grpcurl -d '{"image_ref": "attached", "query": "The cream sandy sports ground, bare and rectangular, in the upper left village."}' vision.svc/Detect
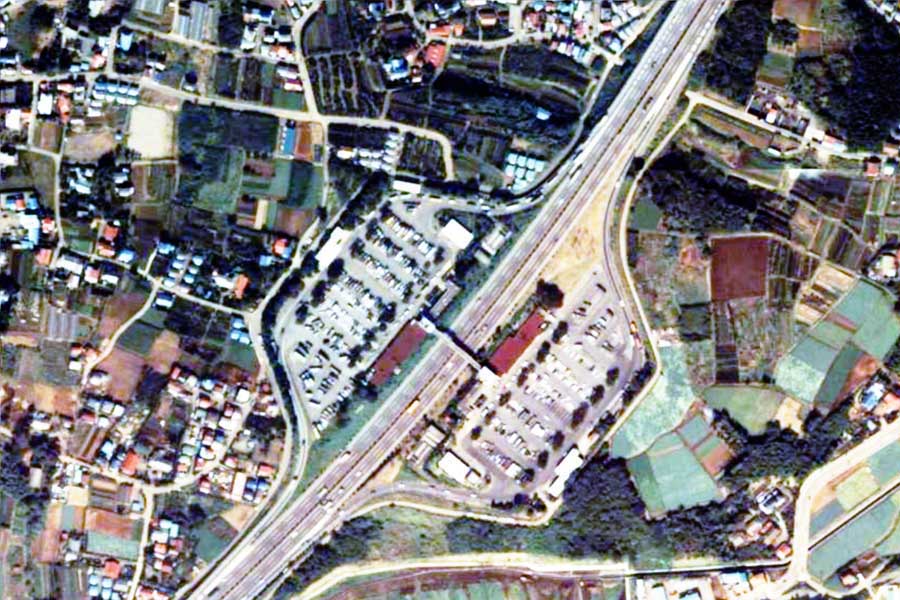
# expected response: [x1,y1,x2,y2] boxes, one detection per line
[126,104,176,158]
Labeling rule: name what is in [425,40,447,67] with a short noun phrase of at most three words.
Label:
building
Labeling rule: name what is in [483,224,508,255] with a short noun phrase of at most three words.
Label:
house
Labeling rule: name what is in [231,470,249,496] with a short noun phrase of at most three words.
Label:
building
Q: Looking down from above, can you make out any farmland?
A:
Yes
